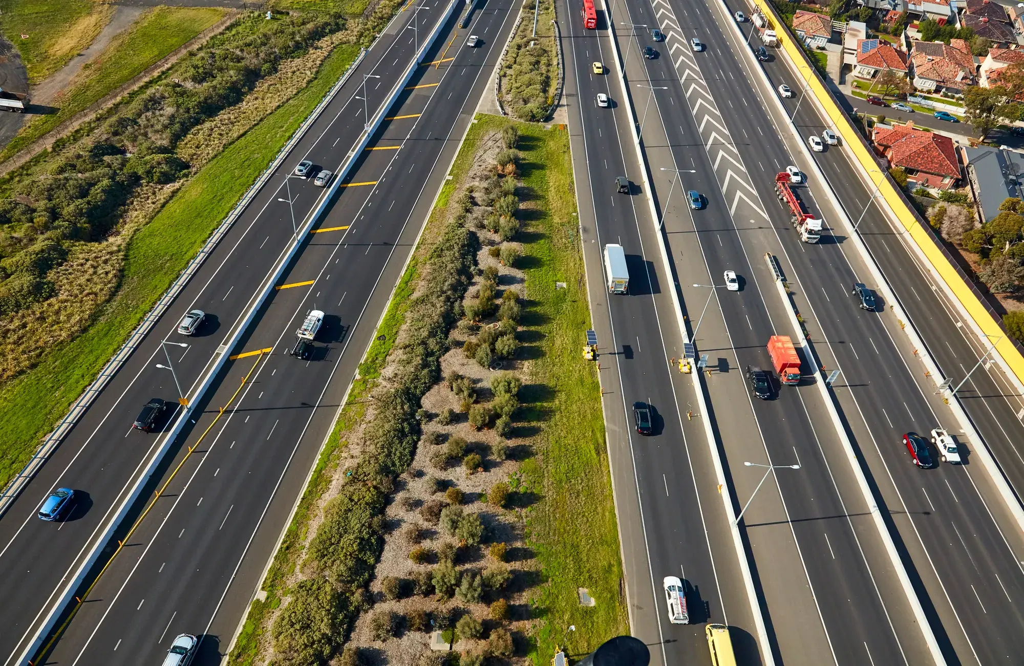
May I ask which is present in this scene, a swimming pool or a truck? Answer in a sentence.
I can see a truck in this picture.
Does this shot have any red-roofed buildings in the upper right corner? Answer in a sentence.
Yes, a red-roofed building is visible in the upper right corner.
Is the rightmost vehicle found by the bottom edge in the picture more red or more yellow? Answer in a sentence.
The rightmost vehicle found by the bottom edge looks yellow in the image.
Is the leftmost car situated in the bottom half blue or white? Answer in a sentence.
The color of the leftmost car situated in the bottom half is blue.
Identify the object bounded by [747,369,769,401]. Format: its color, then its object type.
black truck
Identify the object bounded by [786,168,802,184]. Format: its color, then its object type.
white car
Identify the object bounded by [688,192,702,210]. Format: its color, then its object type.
blue car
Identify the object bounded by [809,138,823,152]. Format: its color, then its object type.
white car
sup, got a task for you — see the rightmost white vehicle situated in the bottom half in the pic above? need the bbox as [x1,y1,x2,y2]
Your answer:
[930,428,961,466]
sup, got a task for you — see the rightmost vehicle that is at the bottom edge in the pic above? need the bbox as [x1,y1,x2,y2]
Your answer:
[709,629,744,666]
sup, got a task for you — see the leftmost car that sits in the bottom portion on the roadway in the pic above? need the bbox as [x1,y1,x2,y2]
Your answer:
[34,486,75,525]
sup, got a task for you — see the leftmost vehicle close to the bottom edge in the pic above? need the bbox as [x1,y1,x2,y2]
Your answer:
[161,629,200,666]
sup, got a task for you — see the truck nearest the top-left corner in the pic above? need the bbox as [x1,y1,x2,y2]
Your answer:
[0,92,31,115]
